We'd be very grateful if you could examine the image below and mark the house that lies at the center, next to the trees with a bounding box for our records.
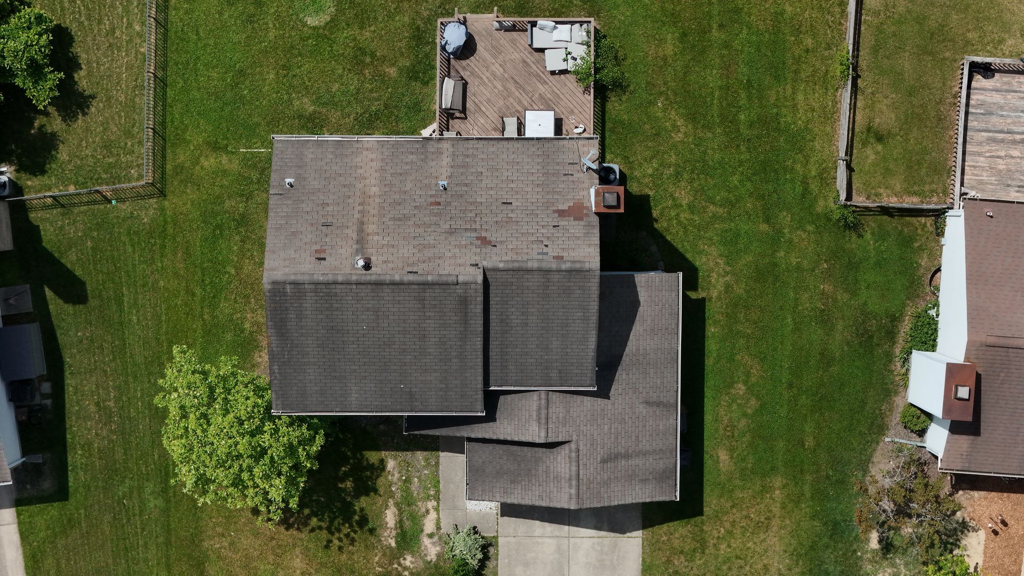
[264,135,684,508]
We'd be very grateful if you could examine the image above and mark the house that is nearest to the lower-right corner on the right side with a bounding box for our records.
[909,197,1024,481]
